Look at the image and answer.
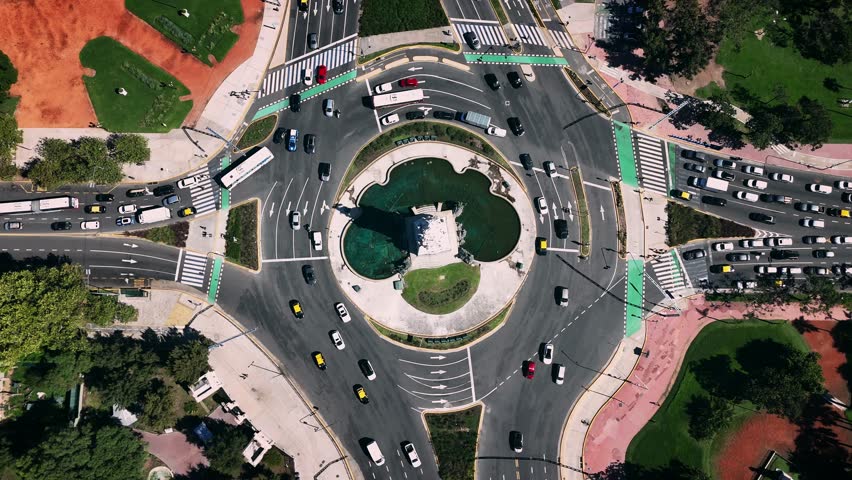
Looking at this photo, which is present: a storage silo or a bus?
bus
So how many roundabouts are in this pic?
1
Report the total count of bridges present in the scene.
0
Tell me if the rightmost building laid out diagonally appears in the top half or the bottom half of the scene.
bottom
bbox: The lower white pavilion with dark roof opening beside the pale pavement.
[246,429,276,461]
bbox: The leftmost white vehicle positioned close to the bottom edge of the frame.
[367,440,385,467]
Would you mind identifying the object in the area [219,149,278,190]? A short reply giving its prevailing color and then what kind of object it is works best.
white bus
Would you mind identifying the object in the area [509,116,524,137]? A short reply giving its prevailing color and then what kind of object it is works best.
black car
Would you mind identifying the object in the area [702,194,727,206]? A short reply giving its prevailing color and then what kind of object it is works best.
black vehicle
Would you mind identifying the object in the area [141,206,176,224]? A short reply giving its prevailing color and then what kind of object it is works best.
white vehicle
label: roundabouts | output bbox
[228,43,641,443]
